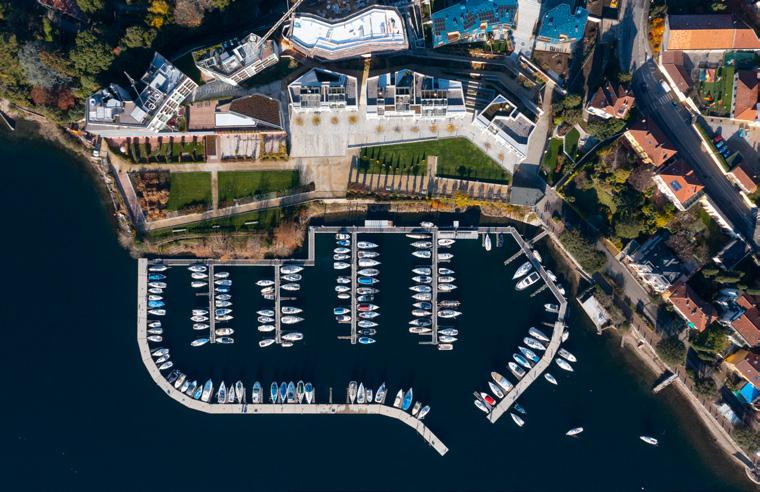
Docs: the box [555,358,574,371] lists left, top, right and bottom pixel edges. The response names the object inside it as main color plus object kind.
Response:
white boat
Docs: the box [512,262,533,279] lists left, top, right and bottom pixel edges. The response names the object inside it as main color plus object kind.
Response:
white boat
